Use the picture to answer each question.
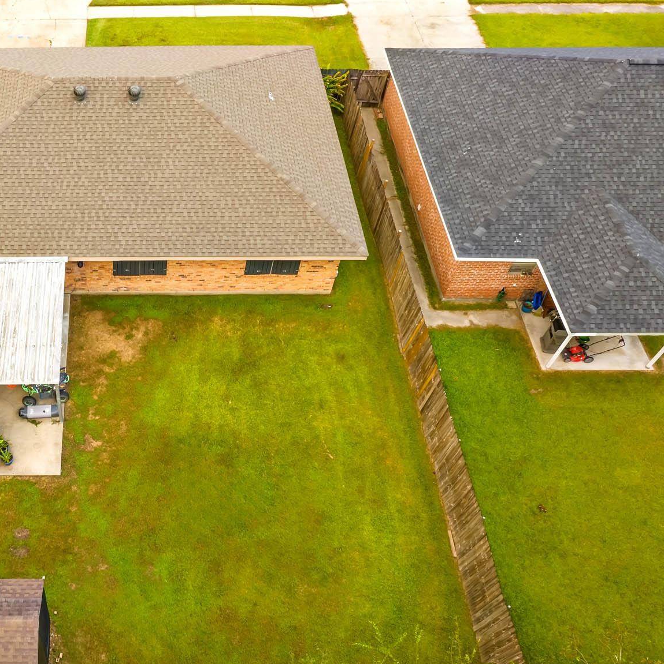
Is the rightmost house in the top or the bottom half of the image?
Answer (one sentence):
The rightmost house sits in the top half of the picture.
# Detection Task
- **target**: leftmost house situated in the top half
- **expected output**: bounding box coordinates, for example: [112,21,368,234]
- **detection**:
[0,45,369,295]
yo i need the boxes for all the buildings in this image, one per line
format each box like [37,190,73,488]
[383,48,664,369]
[0,577,53,664]
[0,45,369,295]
